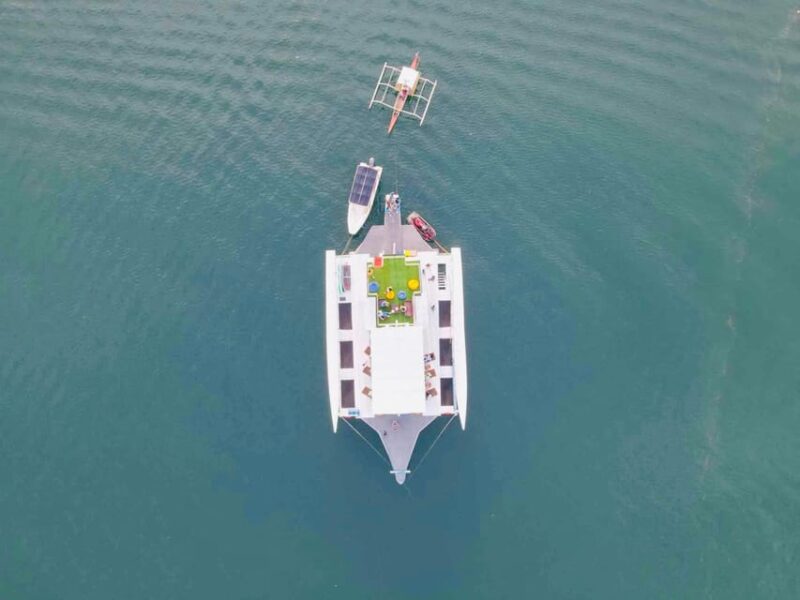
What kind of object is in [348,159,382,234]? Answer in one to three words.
boat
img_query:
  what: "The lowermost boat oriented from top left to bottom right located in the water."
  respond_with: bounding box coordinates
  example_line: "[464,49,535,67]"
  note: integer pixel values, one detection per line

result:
[407,211,434,241]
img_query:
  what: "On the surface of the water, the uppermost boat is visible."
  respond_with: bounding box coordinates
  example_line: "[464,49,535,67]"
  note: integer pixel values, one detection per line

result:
[370,51,436,133]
